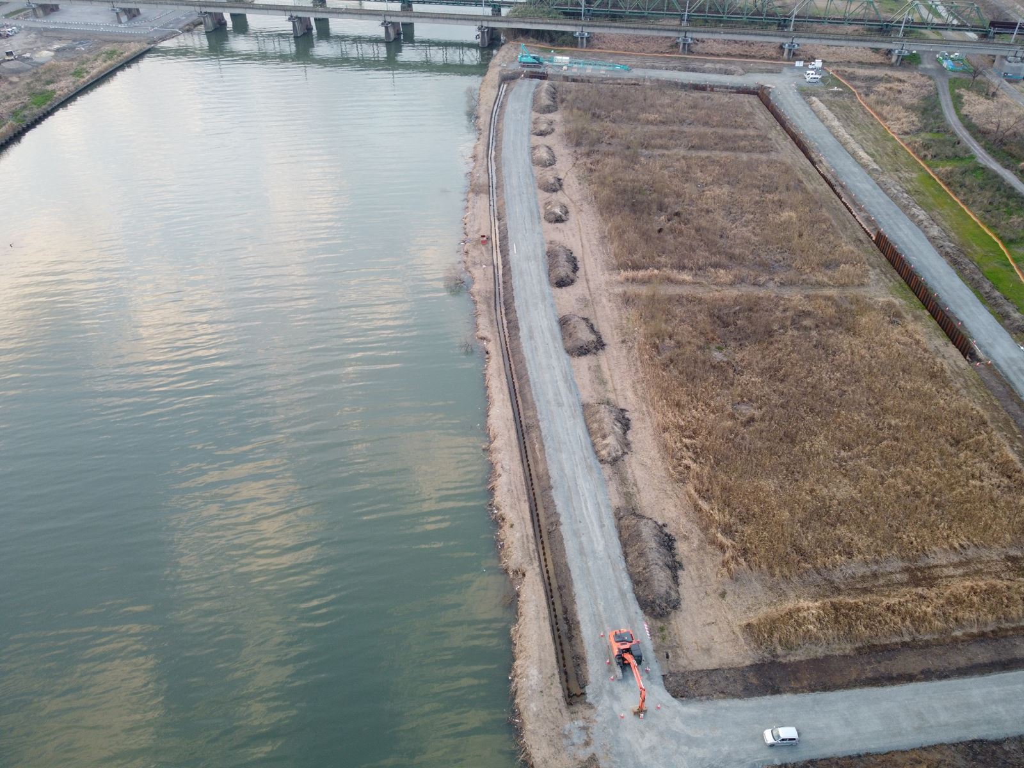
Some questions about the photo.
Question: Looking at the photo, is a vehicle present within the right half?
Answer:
Yes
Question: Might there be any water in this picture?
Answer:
Yes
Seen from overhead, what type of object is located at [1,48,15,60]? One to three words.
vehicle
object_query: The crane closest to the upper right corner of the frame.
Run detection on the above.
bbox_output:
[520,40,633,70]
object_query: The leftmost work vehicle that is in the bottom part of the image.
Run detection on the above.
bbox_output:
[608,624,651,713]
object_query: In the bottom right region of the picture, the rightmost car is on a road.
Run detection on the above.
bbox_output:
[762,725,806,750]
